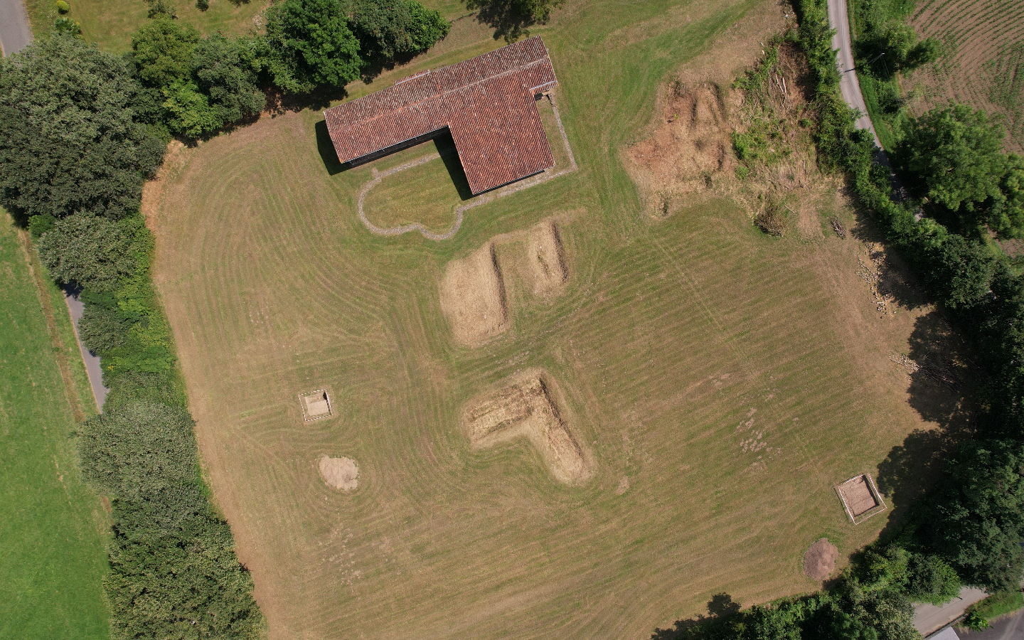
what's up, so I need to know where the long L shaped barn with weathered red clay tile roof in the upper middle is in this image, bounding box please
[324,35,560,196]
